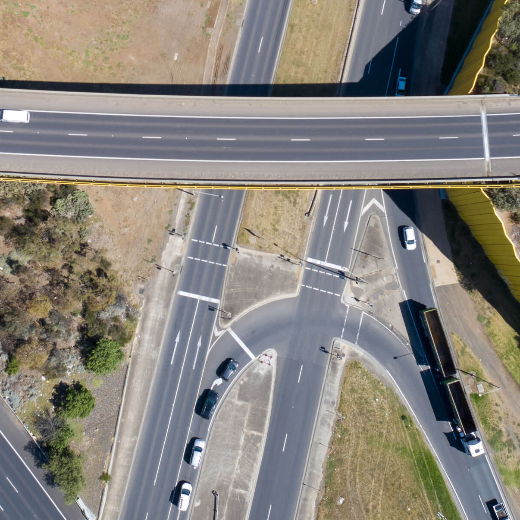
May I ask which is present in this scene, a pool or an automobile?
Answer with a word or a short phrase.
automobile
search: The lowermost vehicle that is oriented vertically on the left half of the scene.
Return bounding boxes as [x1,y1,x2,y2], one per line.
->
[177,480,192,515]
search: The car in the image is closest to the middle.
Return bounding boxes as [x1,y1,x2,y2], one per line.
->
[220,358,239,383]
